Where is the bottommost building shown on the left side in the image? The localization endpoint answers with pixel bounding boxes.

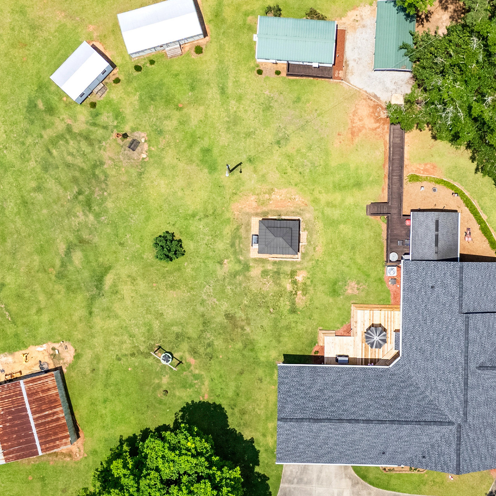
[0,367,84,462]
